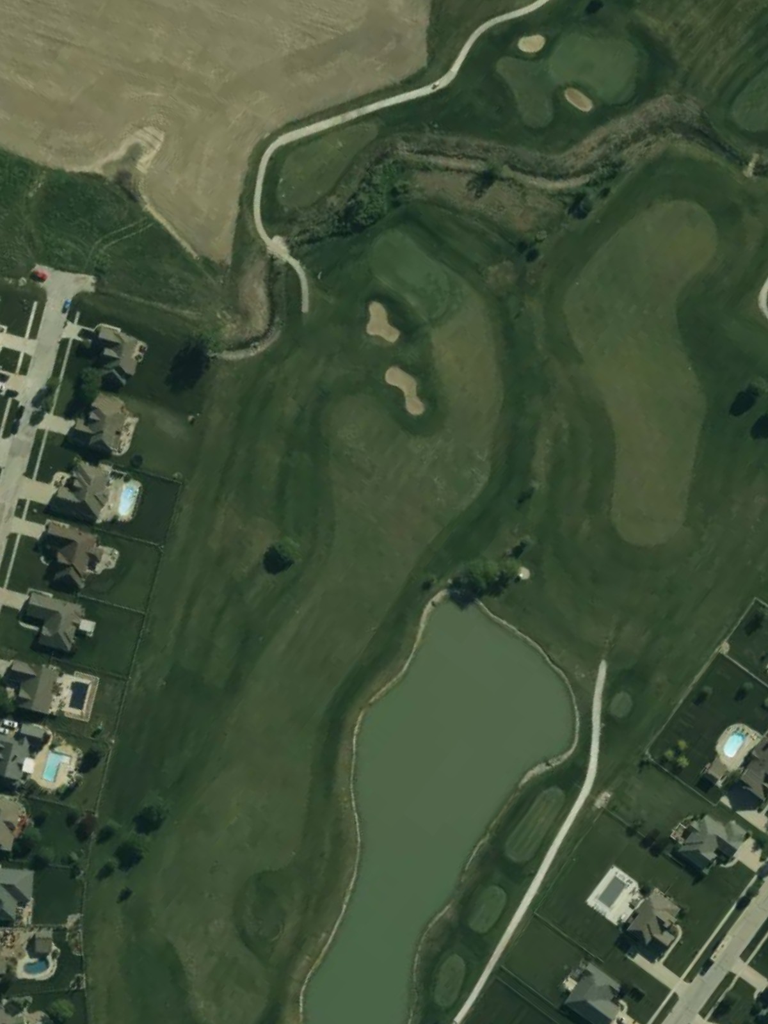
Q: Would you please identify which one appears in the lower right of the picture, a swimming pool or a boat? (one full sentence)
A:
The feature located in the lower right of the picture is a swimming pool.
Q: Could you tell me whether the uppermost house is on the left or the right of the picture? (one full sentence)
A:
You can find the uppermost house on the left side of the picture.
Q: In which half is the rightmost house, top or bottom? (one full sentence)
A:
It is in the bottom half that the rightmost house appears.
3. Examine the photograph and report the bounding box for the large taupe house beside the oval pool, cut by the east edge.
[731,736,768,807]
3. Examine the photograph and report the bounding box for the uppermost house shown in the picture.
[95,327,140,391]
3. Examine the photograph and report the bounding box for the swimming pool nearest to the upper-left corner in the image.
[97,477,142,524]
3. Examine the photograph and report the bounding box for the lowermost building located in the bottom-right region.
[563,962,629,1024]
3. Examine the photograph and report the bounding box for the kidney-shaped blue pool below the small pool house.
[17,945,60,980]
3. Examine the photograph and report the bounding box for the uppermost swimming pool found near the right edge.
[716,723,762,772]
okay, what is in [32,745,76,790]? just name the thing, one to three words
swimming pool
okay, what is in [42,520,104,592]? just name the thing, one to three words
house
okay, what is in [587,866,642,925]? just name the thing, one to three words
swimming pool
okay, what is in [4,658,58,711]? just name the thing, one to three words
house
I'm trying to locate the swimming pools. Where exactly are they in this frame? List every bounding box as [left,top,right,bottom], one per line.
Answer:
[32,745,76,790]
[97,477,142,524]
[587,866,642,925]
[49,671,100,722]
[716,723,762,772]
[17,945,60,980]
